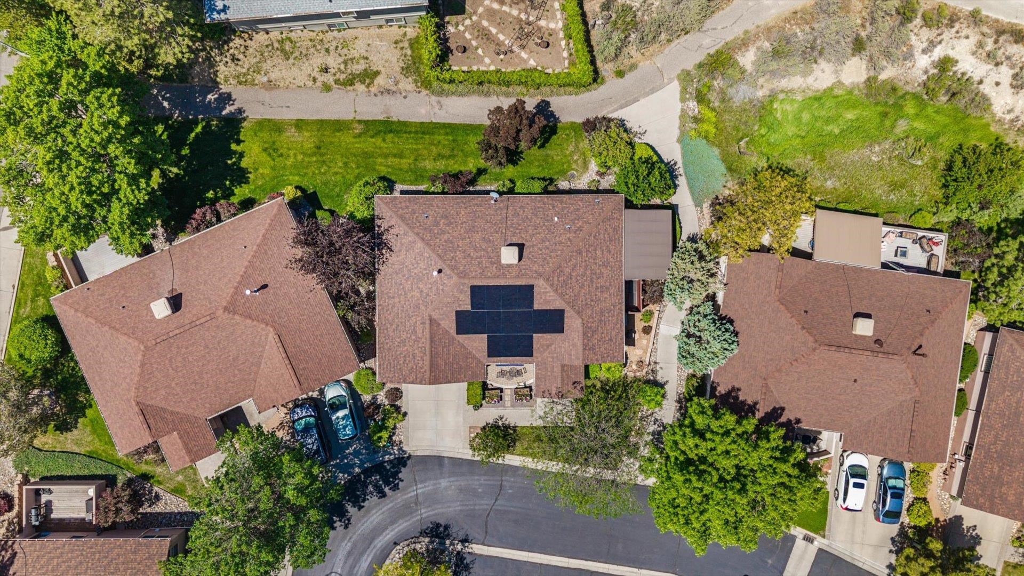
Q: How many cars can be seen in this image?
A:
4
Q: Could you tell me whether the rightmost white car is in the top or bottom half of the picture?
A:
bottom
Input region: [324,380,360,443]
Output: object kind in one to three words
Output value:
car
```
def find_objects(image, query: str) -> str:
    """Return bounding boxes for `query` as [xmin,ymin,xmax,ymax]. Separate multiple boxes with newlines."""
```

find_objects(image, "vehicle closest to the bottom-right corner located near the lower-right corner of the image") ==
[871,458,911,527]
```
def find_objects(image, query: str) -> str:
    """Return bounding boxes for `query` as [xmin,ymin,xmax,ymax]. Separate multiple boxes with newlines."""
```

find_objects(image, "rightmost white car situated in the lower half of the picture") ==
[834,451,873,516]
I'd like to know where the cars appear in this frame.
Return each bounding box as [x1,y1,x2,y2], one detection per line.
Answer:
[295,397,335,467]
[324,380,360,443]
[871,458,911,527]
[834,451,873,516]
